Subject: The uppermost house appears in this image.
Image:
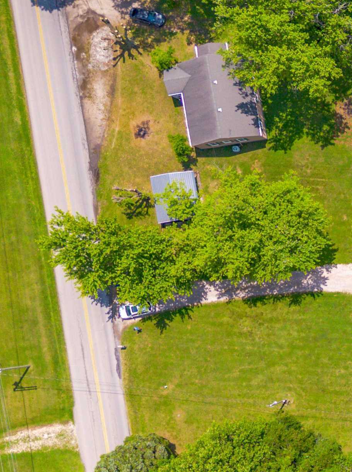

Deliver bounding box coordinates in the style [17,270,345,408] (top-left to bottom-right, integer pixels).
[163,43,265,149]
